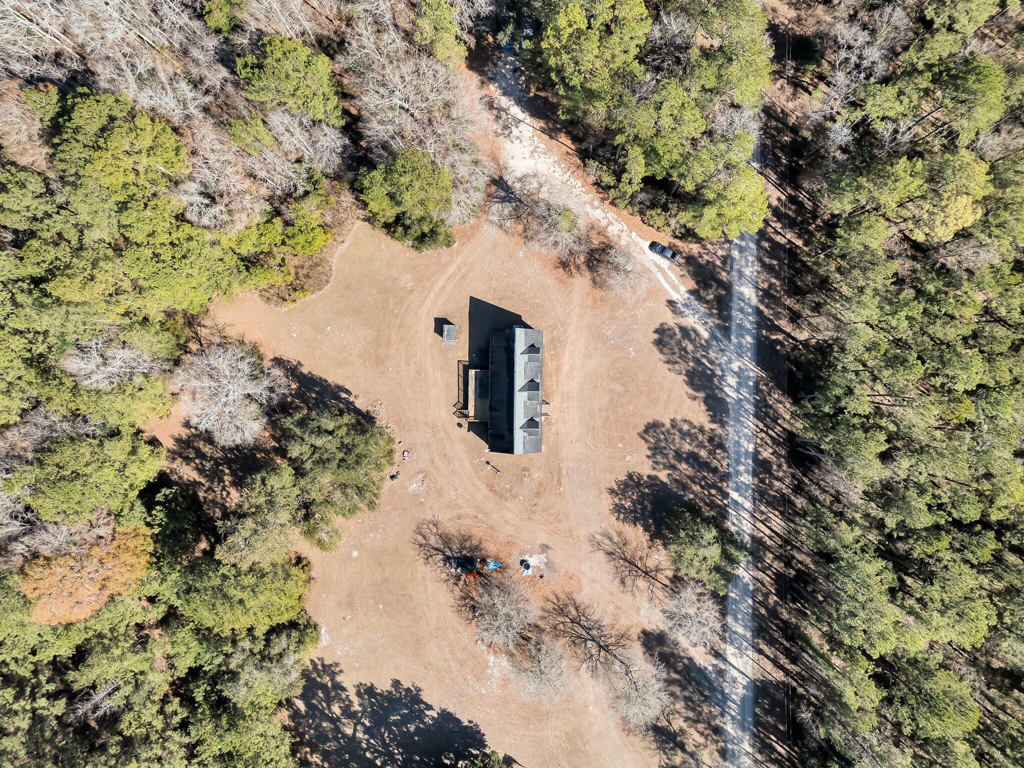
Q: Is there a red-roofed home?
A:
No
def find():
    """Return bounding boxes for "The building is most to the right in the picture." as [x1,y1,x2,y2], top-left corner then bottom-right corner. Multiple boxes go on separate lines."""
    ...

[458,327,553,454]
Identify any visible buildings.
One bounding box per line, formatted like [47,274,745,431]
[442,324,455,341]
[458,327,553,454]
